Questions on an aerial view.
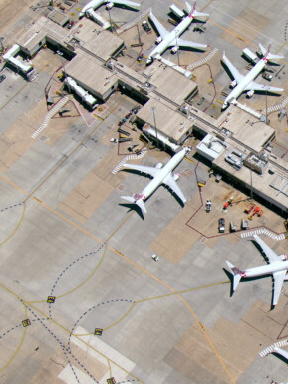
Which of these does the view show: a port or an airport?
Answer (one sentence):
This image shows an airport.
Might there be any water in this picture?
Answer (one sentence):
No, no water is visible.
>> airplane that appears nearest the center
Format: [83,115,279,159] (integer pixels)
[123,149,190,213]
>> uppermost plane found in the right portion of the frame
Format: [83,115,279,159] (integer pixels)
[146,0,209,64]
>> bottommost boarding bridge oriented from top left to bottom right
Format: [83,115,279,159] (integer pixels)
[142,124,187,161]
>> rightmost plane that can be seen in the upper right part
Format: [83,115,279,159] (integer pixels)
[222,42,285,108]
